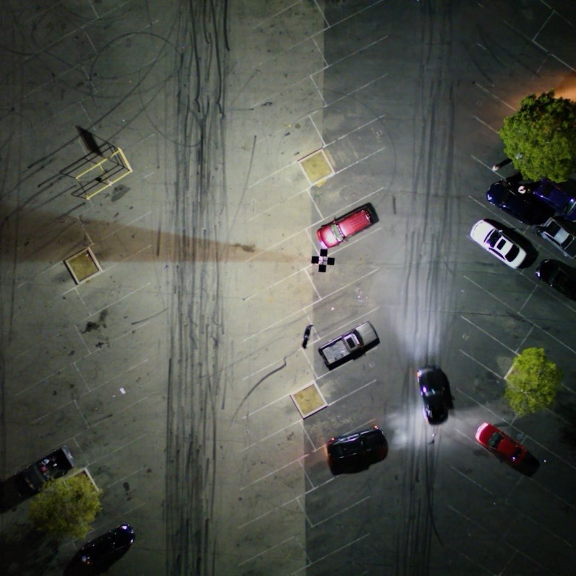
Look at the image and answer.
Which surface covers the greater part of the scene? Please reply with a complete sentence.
The bulk of the photo consists of paved ground.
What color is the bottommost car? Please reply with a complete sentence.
The bottommost car is black.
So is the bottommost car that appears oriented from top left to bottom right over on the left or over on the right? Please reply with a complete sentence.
It is on the right.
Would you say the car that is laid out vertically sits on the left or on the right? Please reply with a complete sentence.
It is on the right.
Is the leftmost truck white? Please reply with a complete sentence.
No, the leftmost truck is black.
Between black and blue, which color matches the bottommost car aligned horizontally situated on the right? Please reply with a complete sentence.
The bottommost car aligned horizontally situated on the right looks black in the image.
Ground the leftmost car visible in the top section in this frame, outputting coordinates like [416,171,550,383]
[317,206,374,249]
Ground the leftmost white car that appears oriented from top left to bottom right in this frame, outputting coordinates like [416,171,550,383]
[470,220,527,269]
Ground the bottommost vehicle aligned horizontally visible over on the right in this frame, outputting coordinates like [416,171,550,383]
[327,428,387,465]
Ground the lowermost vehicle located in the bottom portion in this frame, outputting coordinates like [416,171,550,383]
[78,525,137,568]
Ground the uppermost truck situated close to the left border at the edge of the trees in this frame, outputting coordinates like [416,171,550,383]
[2,449,74,499]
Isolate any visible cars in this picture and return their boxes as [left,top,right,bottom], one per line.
[476,424,534,472]
[534,258,576,300]
[327,428,387,465]
[485,180,549,227]
[535,219,576,259]
[417,365,448,425]
[532,176,576,221]
[470,220,527,269]
[317,206,374,249]
[78,525,137,568]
